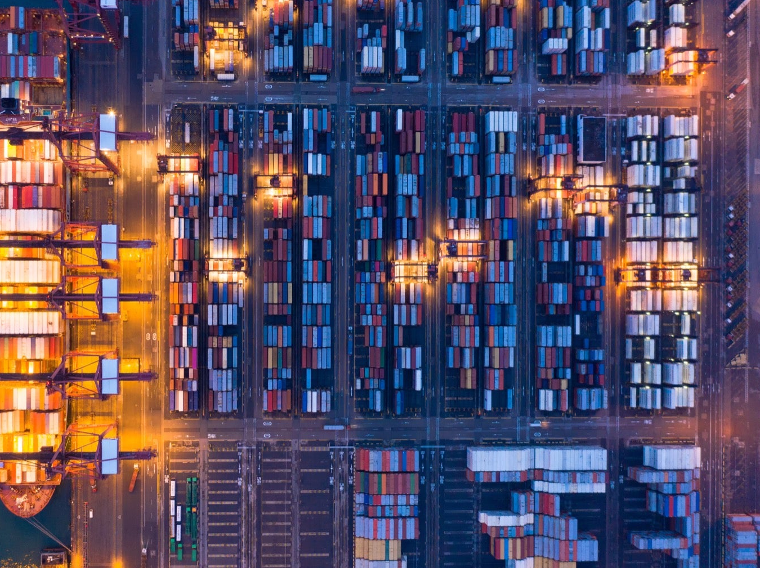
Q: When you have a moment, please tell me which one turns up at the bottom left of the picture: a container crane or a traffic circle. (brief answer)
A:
container crane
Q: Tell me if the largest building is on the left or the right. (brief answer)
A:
right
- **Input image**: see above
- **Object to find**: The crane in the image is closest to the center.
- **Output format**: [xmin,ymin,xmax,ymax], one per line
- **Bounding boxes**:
[387,260,439,283]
